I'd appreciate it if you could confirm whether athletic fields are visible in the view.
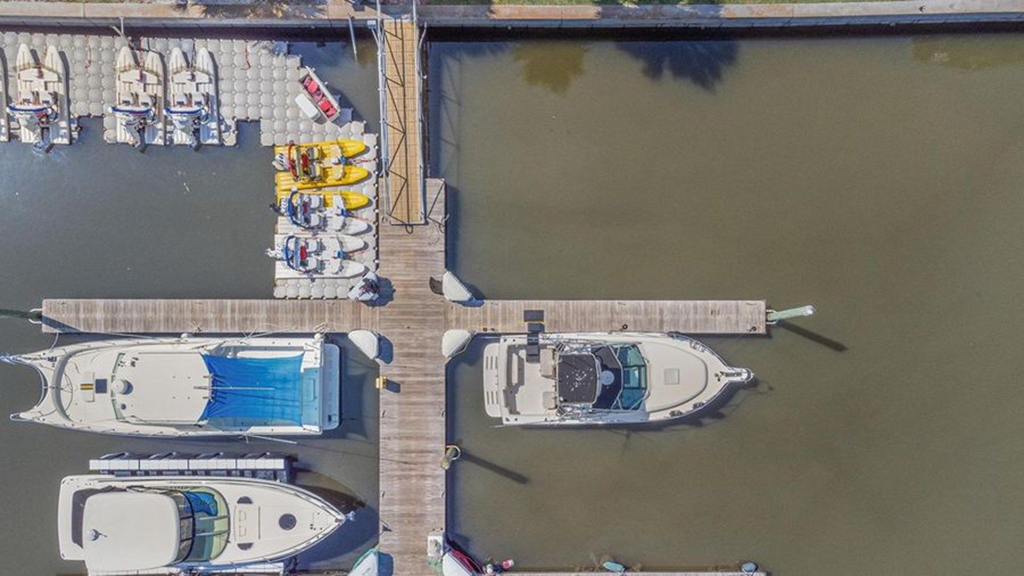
No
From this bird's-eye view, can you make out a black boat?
Yes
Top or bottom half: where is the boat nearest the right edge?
bottom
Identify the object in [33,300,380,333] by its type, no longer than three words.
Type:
pier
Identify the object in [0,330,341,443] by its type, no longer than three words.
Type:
boat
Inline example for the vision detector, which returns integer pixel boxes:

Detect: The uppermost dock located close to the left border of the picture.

[0,33,380,300]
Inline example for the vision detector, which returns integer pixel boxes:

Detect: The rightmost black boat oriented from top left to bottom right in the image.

[453,545,489,576]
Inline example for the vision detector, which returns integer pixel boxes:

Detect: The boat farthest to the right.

[484,332,755,428]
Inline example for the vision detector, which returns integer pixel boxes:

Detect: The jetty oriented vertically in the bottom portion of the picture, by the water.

[347,180,478,576]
